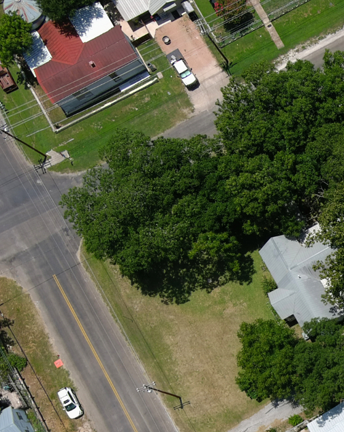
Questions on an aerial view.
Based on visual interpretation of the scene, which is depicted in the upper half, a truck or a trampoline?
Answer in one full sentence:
Looking in the upper half, you will find a truck.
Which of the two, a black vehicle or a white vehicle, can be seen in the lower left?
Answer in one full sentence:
There is a white vehicle in the lower left.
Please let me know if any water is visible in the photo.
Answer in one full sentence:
No, the picture contains no water.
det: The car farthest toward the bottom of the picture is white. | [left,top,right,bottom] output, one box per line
[58,386,83,419]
